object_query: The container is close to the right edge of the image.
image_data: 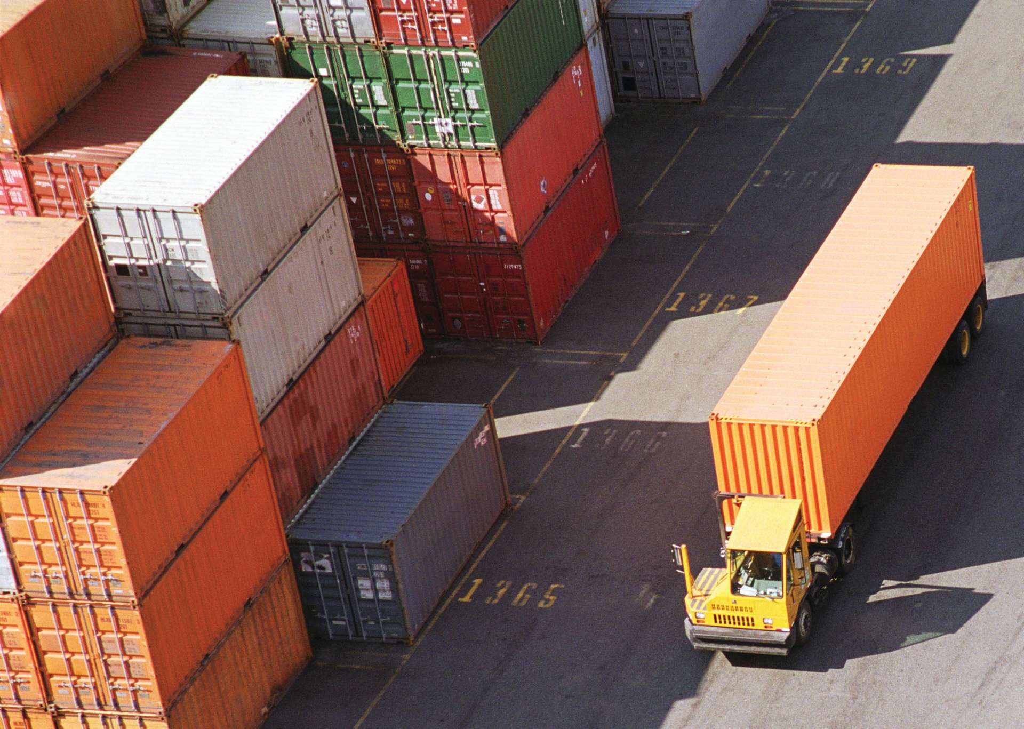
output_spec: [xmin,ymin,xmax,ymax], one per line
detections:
[708,163,985,537]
